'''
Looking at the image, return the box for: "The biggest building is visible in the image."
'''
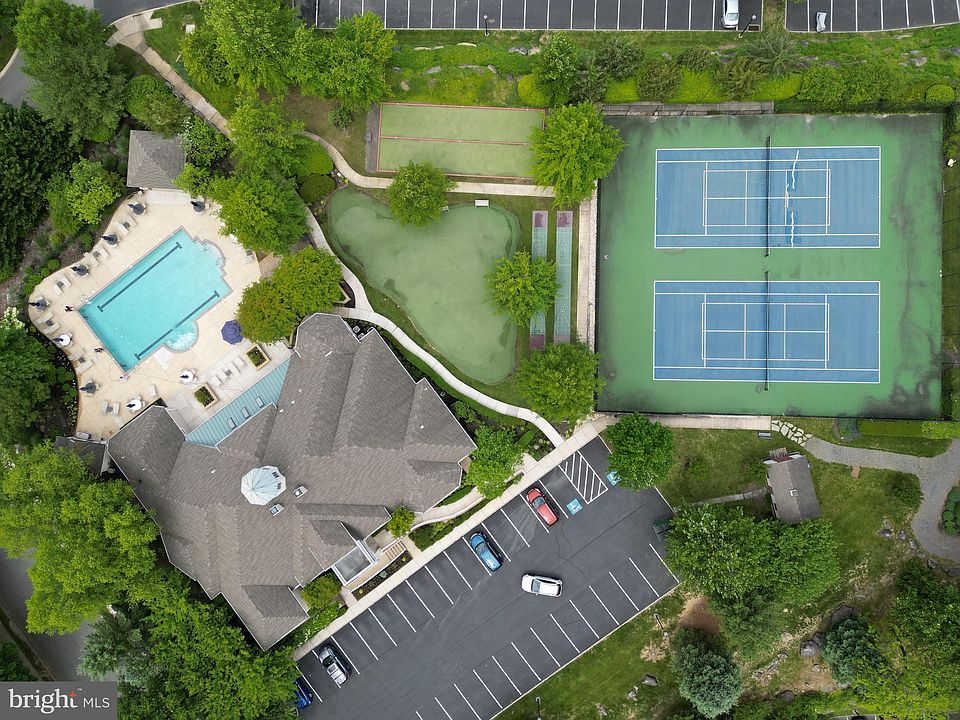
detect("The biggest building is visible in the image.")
[104,311,475,652]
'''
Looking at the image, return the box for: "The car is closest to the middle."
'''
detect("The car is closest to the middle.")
[525,487,560,525]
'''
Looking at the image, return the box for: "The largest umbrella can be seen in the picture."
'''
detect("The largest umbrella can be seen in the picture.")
[221,320,245,343]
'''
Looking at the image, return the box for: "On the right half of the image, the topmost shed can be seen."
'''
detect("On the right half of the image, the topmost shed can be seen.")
[764,448,821,524]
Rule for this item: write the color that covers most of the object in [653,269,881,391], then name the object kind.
blue tennis court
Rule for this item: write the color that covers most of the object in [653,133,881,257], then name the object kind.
blue tennis court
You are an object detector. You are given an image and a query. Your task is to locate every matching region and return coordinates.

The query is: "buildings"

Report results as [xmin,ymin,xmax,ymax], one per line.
[764,448,821,524]
[104,311,475,652]
[128,130,196,194]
